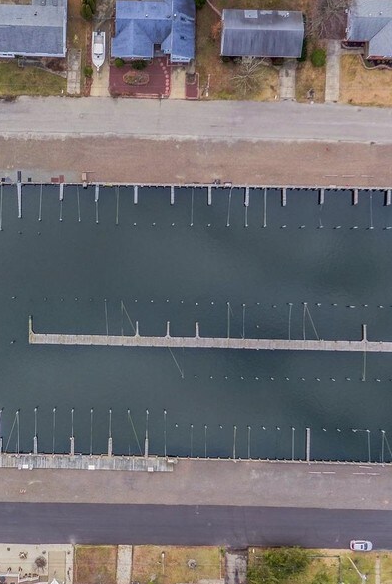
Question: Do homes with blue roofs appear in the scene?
Yes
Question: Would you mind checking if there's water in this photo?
Yes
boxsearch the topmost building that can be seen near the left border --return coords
[0,0,67,65]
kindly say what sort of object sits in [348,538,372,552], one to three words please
vehicle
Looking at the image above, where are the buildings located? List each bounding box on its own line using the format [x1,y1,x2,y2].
[344,0,392,61]
[0,572,19,584]
[222,9,308,60]
[0,0,67,65]
[110,0,196,63]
